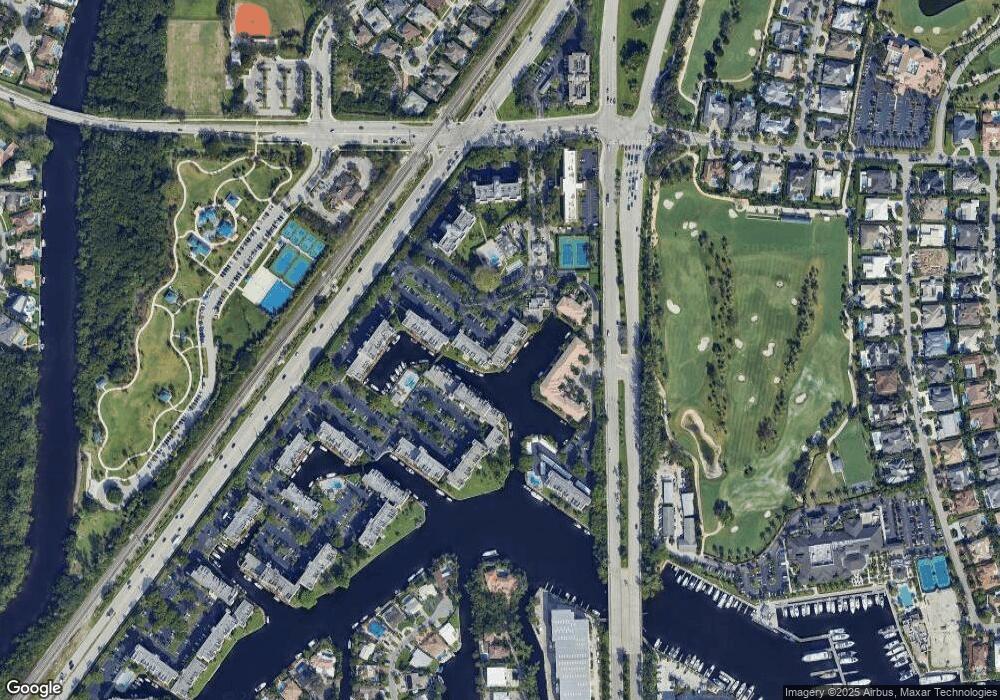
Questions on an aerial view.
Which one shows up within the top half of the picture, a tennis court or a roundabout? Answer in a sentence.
Visible within the top half of the picture is a tennis court.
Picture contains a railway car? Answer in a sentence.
No, the scene contains no railway car.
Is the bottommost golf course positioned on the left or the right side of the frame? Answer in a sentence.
The bottommost golf course is on the right side of the image.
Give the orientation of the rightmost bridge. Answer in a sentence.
The rightmost bridge runs vertically in the image.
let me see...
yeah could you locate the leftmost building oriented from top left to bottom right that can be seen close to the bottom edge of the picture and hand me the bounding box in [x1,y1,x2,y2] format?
[131,645,178,686]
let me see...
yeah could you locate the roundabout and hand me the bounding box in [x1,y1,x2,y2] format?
[96,475,130,509]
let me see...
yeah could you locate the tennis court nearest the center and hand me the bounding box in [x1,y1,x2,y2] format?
[559,235,590,268]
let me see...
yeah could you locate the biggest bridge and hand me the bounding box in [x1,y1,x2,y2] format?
[607,566,644,655]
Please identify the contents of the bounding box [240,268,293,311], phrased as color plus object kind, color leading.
white sports court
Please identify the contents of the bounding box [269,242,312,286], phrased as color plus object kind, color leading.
blue tennis court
